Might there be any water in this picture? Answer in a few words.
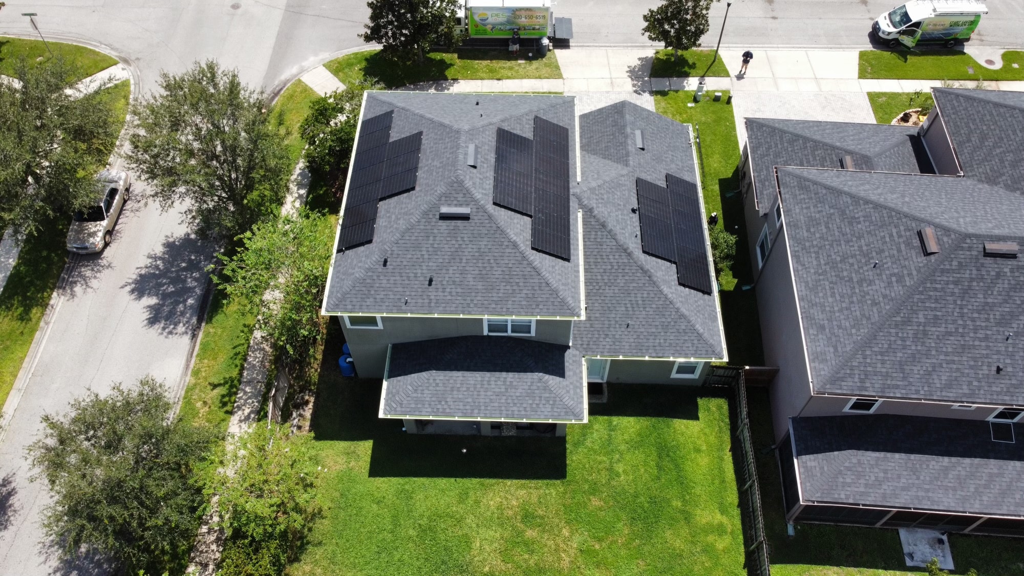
No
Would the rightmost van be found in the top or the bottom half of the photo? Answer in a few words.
top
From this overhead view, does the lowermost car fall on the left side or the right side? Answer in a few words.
left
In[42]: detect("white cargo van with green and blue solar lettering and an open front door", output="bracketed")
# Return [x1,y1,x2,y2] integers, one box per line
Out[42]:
[872,0,991,48]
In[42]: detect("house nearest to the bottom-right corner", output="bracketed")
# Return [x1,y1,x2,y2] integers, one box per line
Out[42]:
[737,88,1024,537]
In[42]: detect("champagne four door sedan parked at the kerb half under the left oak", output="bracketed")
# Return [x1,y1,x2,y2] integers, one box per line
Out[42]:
[66,179,129,259]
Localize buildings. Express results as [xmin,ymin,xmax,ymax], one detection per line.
[737,88,1024,537]
[321,91,729,437]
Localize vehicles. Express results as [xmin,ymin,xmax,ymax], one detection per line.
[66,179,129,259]
[872,0,991,48]
[445,0,573,47]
